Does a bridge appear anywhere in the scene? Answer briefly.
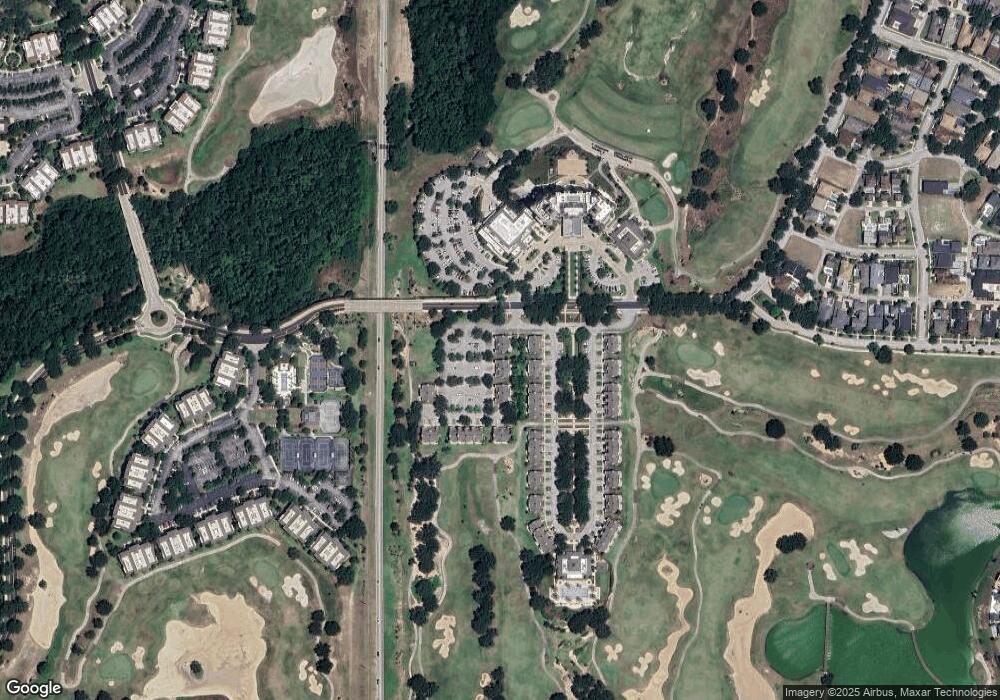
Yes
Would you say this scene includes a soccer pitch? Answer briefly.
No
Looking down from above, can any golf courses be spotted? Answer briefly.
Yes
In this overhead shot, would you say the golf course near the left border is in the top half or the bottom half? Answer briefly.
bottom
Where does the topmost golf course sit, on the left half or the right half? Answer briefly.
left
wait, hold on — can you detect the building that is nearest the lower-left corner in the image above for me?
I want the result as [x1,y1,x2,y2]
[118,545,157,573]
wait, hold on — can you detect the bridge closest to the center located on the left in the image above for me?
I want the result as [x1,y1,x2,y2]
[344,300,423,312]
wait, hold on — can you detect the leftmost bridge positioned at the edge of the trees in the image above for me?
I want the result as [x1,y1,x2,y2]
[117,191,161,300]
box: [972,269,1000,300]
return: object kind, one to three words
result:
house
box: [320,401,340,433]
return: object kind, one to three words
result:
basketball court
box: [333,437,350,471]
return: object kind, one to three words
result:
tennis court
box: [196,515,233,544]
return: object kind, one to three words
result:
building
